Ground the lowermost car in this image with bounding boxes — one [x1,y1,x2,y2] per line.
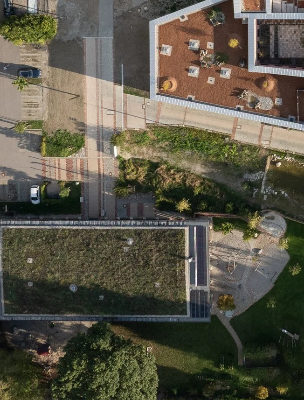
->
[26,185,40,207]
